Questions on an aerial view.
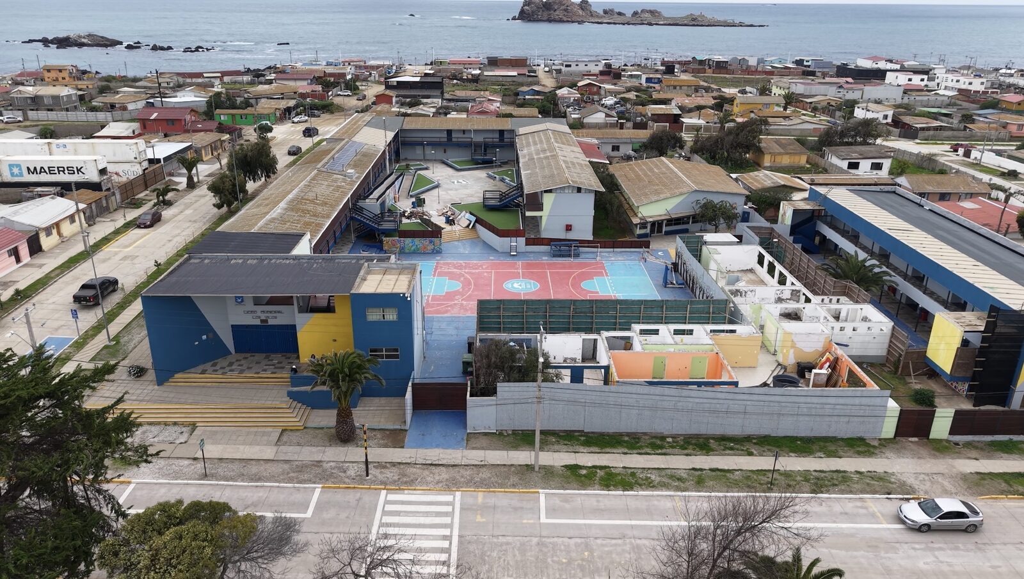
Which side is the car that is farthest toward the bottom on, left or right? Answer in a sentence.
You can find the car that is farthest toward the bottom on the right side of the picture.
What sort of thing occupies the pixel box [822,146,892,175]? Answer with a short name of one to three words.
house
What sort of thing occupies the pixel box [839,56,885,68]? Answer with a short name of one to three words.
house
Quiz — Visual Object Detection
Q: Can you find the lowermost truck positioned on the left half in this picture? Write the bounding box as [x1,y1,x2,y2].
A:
[70,277,115,302]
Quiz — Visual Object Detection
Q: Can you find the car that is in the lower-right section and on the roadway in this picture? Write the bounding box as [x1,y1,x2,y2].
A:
[898,493,989,530]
